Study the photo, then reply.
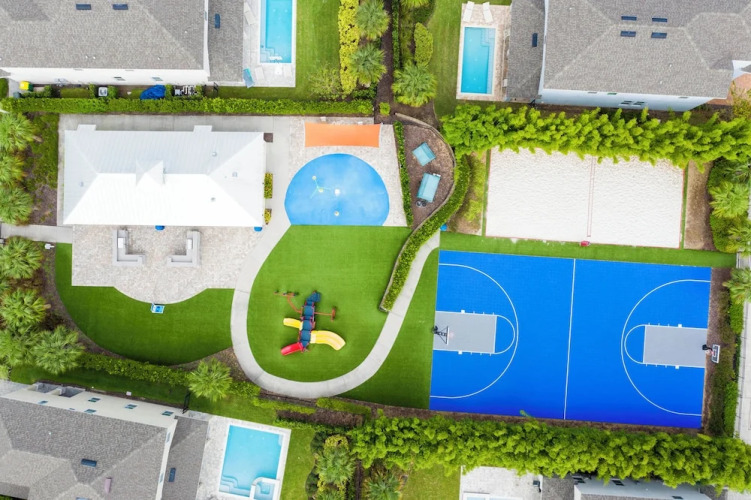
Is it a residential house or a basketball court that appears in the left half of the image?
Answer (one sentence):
You can see a residential house in the left half of the image.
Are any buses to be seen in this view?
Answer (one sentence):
No, there is no bus in the image.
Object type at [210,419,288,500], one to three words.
swimming pool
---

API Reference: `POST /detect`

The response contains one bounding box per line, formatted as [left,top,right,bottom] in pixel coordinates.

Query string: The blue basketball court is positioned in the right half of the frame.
[431,251,711,430]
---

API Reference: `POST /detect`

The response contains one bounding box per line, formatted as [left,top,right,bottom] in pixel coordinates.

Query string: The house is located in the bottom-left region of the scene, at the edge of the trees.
[0,370,211,500]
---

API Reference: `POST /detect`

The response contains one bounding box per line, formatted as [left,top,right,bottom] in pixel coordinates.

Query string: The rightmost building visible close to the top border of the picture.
[502,0,751,109]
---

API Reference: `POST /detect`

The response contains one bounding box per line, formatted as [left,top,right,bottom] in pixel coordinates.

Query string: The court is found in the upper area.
[486,141,691,249]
